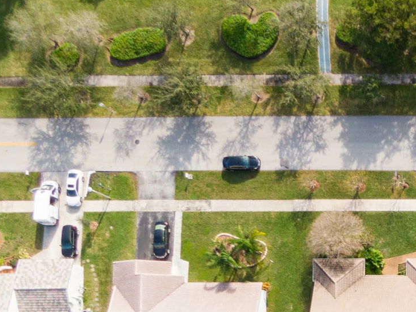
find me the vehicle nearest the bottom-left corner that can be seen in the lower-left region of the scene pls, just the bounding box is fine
[59,224,79,257]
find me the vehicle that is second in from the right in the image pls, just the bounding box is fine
[152,221,171,259]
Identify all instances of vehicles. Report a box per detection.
[59,224,79,257]
[65,169,86,207]
[222,153,261,171]
[152,221,171,259]
[29,181,61,227]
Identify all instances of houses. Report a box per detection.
[310,258,416,312]
[0,258,86,312]
[107,258,269,312]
